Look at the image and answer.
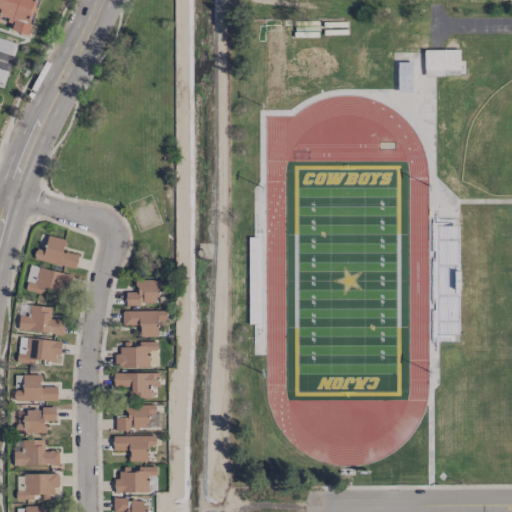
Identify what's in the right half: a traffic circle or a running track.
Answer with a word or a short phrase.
running track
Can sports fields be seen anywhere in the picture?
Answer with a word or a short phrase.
Yes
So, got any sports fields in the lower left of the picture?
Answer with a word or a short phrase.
No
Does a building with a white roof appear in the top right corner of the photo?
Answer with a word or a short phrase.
Yes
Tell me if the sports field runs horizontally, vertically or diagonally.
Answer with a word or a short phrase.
vertically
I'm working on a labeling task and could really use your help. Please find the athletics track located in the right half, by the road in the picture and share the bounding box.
[266,98,430,466]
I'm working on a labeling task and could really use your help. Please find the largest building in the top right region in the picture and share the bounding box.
[426,50,467,76]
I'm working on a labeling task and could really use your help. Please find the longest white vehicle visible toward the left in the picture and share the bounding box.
[30,61,52,98]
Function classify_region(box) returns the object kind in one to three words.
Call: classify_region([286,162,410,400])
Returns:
sports field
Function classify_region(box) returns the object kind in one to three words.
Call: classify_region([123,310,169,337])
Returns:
house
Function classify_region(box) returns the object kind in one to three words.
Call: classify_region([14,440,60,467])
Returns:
house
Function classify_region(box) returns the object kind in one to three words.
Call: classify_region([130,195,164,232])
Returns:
sports court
